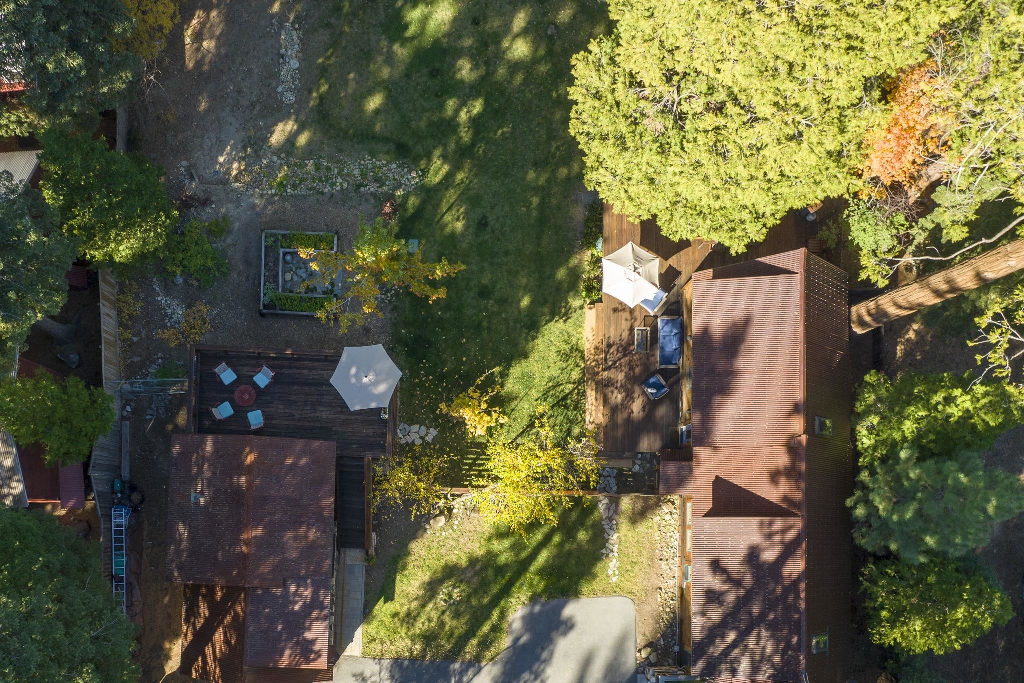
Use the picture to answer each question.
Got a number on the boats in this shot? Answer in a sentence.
I count no boats.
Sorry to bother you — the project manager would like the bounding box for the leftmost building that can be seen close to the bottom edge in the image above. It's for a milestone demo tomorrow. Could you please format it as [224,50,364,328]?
[164,434,338,683]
